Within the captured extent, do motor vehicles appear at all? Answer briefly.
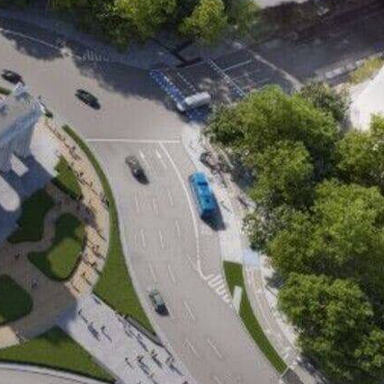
Yes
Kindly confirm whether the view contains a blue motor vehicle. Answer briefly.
Yes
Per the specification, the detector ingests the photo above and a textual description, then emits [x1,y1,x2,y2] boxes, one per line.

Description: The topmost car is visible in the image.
[1,68,22,81]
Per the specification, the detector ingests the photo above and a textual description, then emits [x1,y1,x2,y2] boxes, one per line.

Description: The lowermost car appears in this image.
[148,287,167,310]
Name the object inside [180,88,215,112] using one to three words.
truck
